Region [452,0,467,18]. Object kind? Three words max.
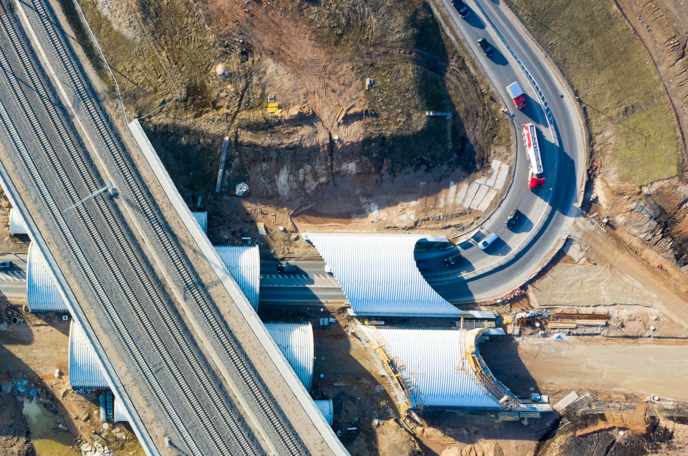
car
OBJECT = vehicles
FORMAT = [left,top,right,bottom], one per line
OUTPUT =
[505,79,530,114]
[320,264,332,273]
[452,0,467,18]
[520,123,544,189]
[478,38,492,58]
[0,262,12,269]
[276,265,299,273]
[477,232,499,251]
[415,262,434,271]
[504,209,522,229]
